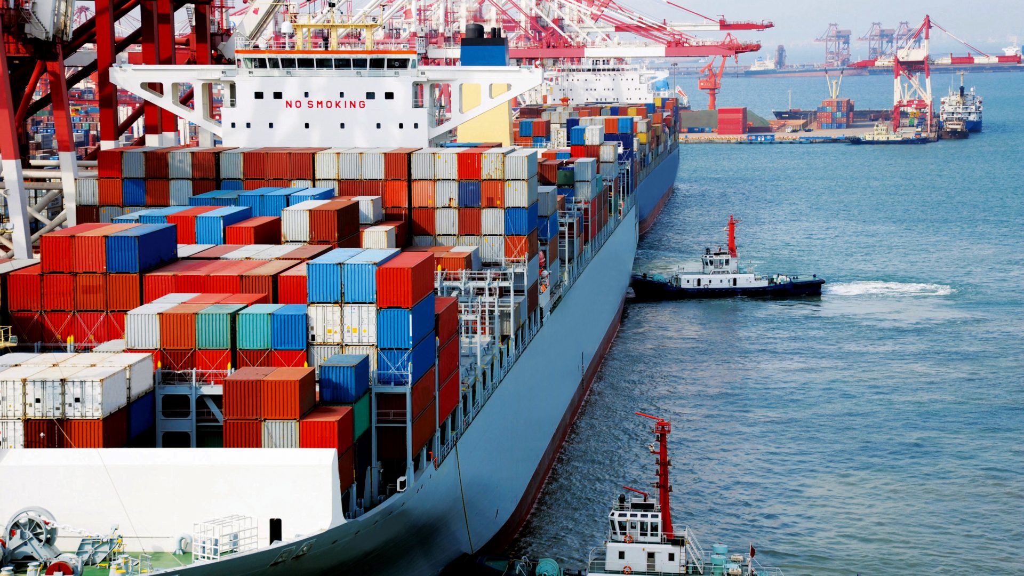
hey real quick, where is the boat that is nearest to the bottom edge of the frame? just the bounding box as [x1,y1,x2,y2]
[453,411,802,576]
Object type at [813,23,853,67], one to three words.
crane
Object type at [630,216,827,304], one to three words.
boat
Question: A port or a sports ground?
port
